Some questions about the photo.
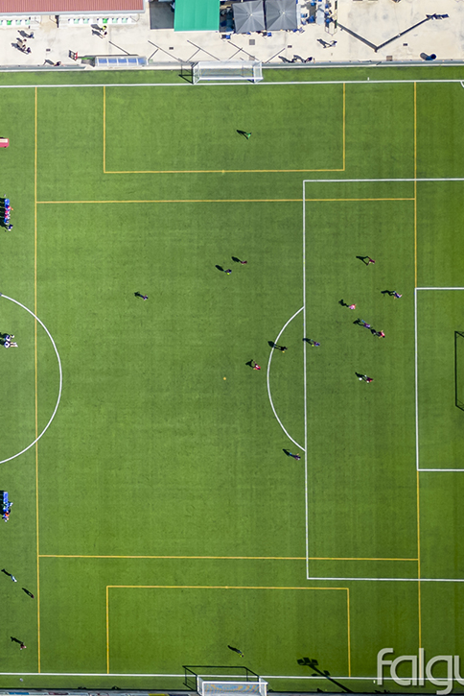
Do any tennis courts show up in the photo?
No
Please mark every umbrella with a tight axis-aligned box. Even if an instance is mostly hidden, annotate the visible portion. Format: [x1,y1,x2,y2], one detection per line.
[265,0,297,31]
[231,0,265,34]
